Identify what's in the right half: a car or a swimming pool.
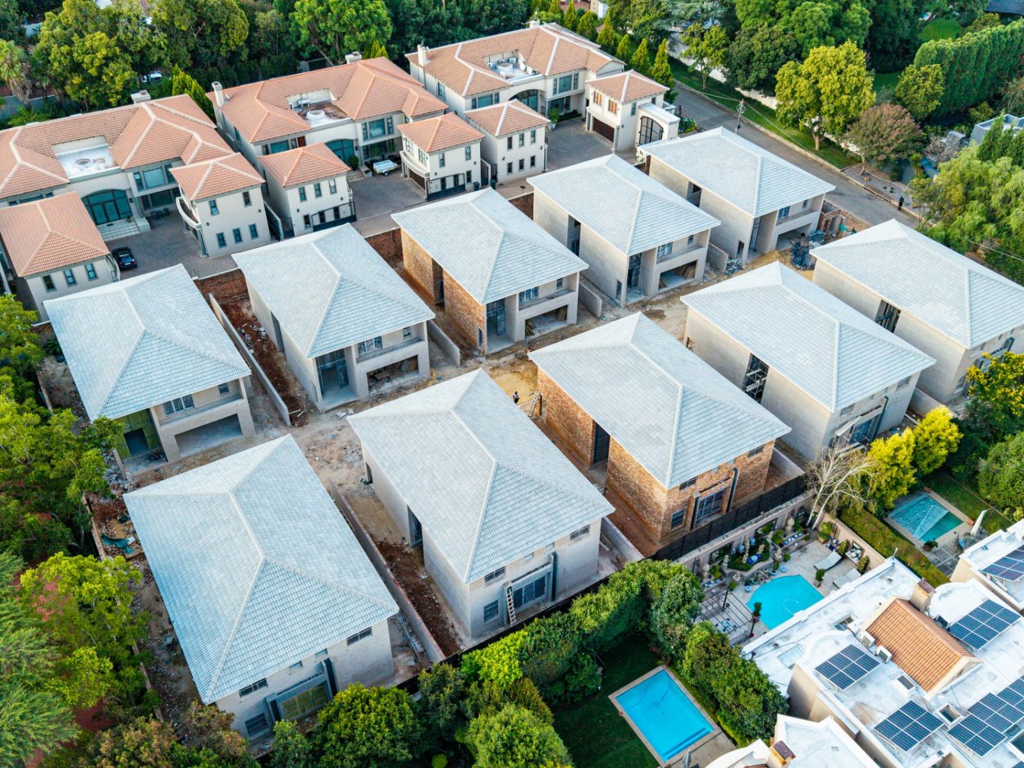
swimming pool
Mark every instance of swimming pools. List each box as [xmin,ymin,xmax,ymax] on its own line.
[746,570,829,634]
[884,486,974,550]
[607,662,723,768]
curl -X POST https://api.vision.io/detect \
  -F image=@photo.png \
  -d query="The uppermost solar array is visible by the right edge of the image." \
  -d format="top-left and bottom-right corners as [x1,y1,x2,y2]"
[981,548,1024,589]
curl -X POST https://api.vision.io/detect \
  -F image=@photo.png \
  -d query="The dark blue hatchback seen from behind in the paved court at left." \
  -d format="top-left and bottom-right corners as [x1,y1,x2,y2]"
[110,242,139,268]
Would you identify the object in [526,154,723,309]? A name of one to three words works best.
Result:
house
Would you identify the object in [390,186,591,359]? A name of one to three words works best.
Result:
house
